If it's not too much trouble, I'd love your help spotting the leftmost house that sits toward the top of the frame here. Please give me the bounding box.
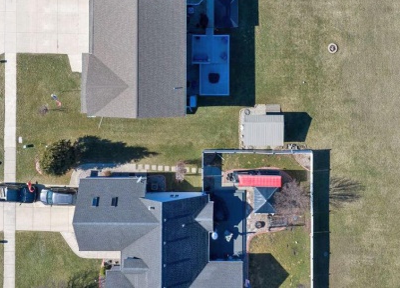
[80,0,188,129]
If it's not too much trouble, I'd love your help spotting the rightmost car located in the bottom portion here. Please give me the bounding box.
[40,188,76,206]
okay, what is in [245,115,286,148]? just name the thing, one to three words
shed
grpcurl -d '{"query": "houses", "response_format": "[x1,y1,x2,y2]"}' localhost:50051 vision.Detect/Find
[72,175,244,288]
[80,0,188,129]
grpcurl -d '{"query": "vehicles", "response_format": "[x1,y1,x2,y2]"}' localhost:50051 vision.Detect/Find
[0,184,38,203]
[40,188,76,206]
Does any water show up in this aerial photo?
No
